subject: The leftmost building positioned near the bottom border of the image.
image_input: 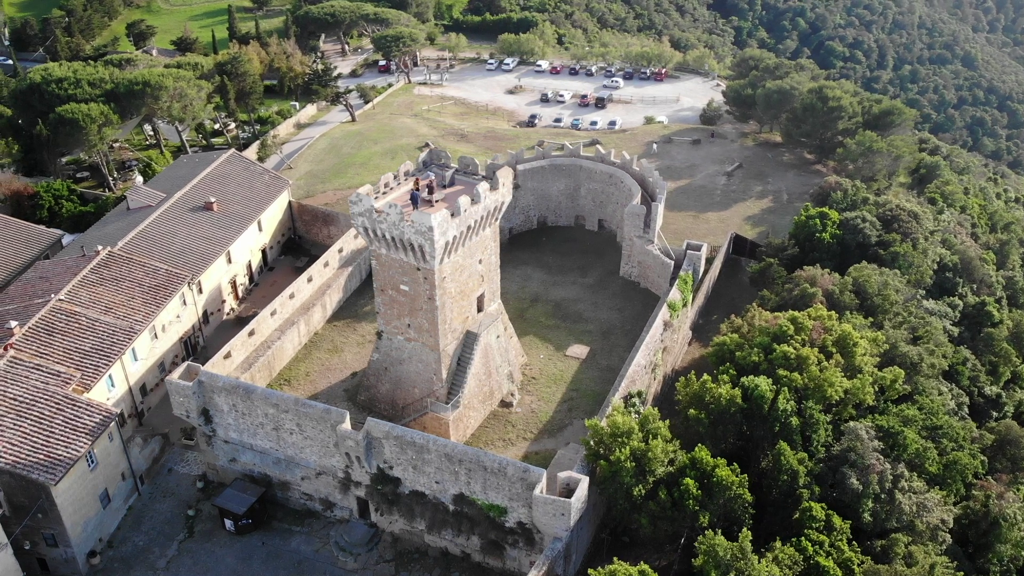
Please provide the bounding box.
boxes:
[0,368,138,565]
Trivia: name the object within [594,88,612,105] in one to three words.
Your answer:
vehicle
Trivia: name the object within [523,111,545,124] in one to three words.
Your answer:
vehicle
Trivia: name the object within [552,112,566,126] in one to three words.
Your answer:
car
